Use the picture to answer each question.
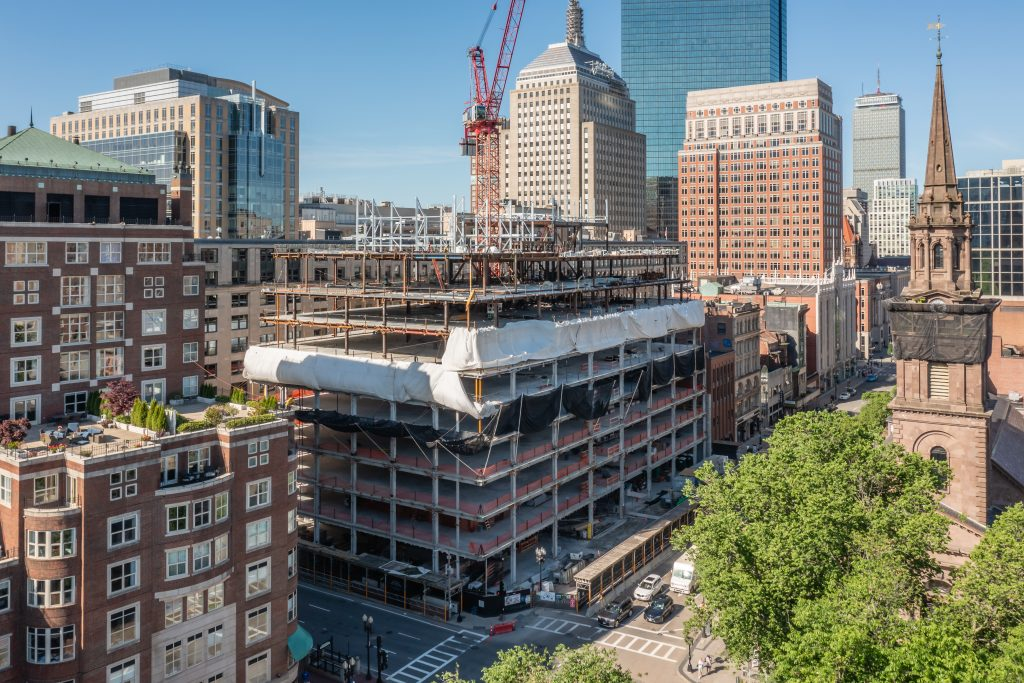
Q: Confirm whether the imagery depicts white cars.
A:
Yes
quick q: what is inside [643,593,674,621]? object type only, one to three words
car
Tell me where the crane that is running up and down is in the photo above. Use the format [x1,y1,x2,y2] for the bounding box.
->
[452,0,524,381]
